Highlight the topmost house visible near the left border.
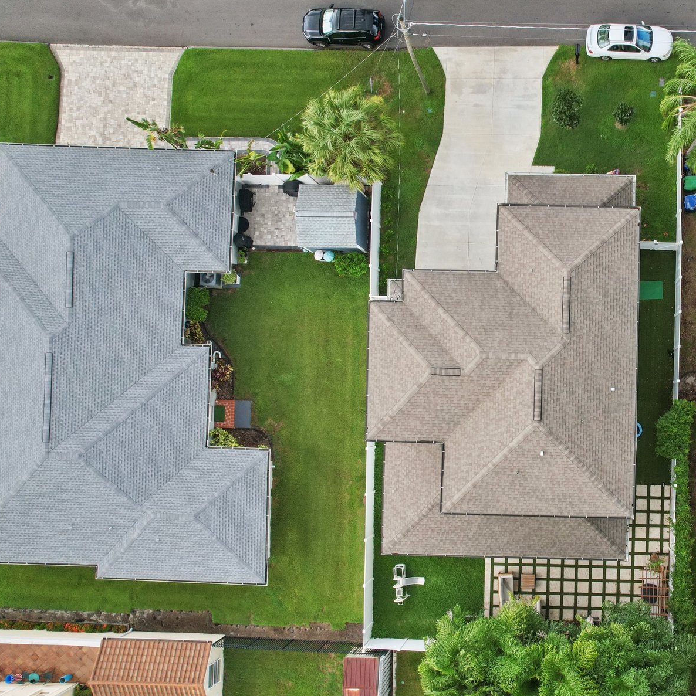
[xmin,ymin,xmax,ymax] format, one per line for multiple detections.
[0,143,276,588]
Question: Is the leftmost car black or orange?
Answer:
black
